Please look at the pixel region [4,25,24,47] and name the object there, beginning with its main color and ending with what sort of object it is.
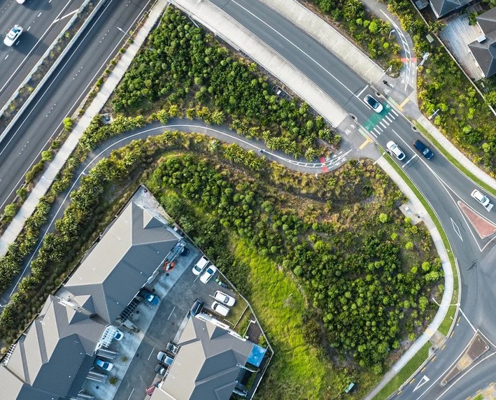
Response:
white car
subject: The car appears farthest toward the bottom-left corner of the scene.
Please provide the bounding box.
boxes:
[92,357,117,373]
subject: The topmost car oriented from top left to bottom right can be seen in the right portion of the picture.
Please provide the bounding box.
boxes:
[363,93,383,115]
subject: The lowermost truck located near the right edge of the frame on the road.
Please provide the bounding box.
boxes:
[470,188,493,212]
